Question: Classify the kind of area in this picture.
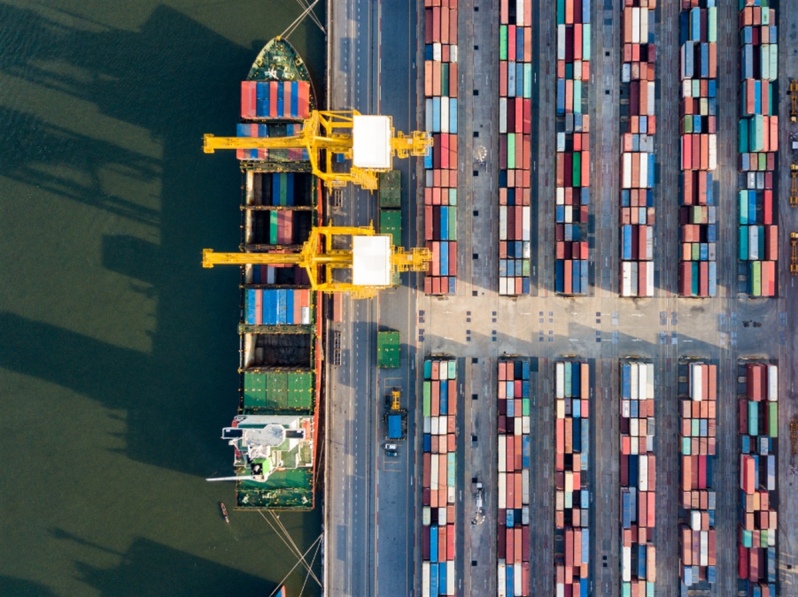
port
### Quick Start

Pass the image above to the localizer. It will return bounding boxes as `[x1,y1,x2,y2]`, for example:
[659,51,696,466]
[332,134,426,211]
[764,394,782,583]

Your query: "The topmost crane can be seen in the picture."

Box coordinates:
[203,108,434,198]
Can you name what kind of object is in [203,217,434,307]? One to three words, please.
container crane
